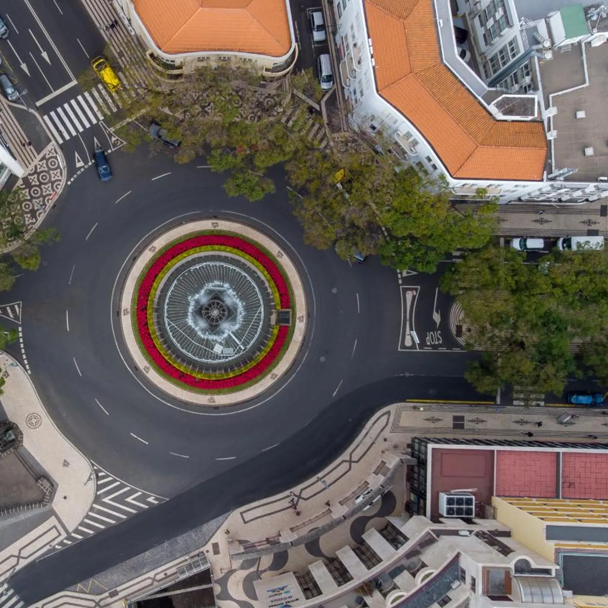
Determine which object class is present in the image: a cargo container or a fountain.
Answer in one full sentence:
Visible in the photo is a fountain.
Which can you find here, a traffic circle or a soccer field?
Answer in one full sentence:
I can see a traffic circle in this picture.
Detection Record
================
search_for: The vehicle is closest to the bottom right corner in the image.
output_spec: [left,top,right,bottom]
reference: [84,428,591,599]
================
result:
[565,390,605,409]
